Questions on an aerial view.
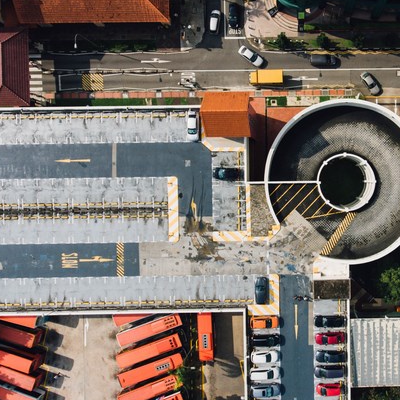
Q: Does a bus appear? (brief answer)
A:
Yes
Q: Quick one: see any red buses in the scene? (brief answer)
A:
Yes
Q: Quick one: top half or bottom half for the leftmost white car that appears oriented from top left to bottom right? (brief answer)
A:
top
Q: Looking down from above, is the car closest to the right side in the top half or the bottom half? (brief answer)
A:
top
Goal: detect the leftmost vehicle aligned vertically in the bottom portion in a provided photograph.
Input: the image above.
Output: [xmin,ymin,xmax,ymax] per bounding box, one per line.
[198,314,217,359]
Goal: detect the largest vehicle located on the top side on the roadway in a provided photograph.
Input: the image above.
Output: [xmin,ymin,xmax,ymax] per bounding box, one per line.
[251,70,284,88]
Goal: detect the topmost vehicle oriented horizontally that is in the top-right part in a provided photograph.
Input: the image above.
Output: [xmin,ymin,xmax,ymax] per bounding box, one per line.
[310,53,338,66]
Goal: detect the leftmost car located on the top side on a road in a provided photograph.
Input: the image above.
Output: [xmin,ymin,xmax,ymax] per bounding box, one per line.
[209,10,222,35]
